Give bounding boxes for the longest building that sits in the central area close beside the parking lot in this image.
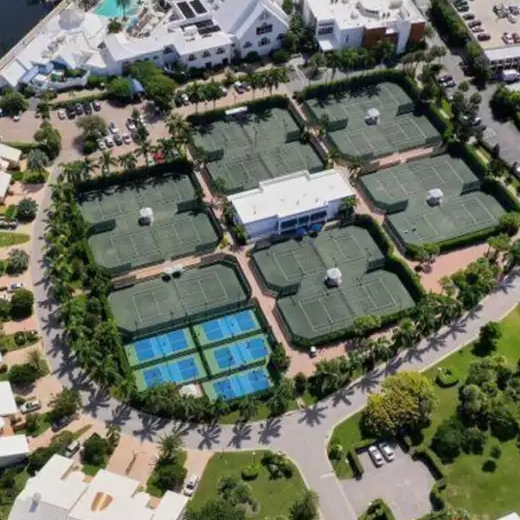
[226,169,355,246]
